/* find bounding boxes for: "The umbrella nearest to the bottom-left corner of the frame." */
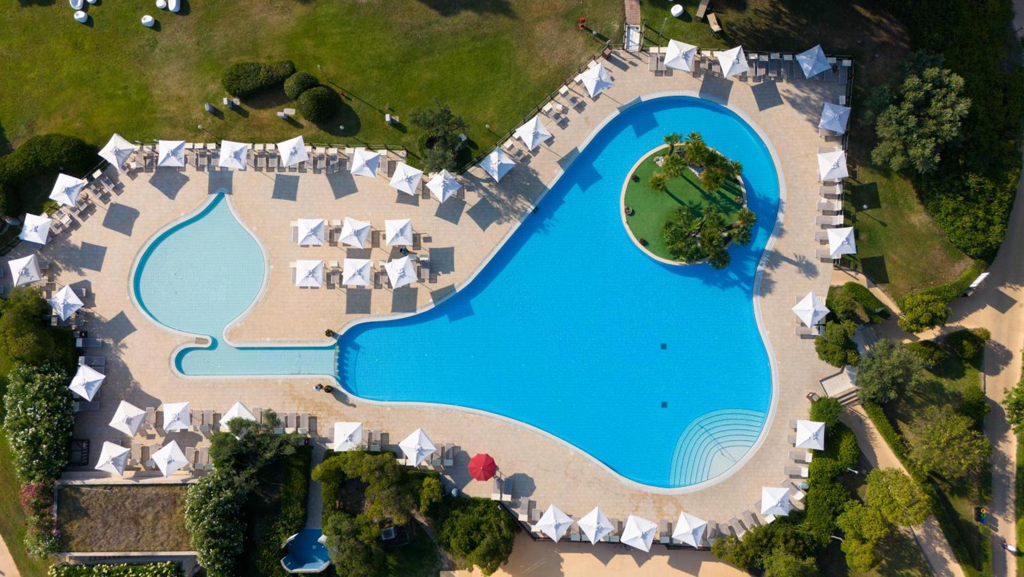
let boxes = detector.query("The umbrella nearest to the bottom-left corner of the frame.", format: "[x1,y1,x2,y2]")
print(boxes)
[98,441,132,475]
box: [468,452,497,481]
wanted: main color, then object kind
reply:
red umbrella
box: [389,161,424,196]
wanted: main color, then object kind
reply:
white umbrella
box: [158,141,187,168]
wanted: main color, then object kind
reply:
white umbrella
